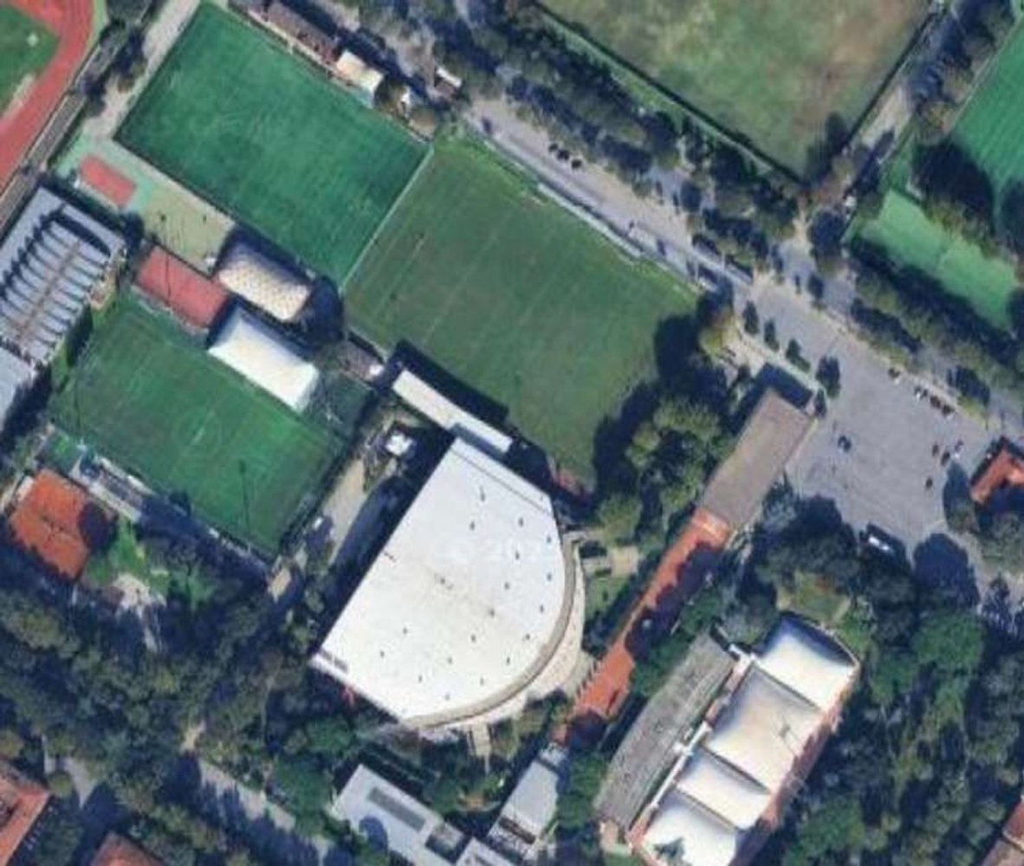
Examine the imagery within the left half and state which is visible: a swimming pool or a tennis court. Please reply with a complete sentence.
What appears within the left half is a tennis court.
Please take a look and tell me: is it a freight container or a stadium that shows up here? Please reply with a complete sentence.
It is a stadium that can be seen here.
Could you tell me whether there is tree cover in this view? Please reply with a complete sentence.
Yes, the picture does contain tree cover.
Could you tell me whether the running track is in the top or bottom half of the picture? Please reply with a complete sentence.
The running track is in the top half of the image.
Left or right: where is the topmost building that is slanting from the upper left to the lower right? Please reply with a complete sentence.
The topmost building that is slanting from the upper left to the lower right appears in the left half of the scene.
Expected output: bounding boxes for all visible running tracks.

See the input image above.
[0,0,95,186]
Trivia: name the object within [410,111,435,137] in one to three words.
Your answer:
shed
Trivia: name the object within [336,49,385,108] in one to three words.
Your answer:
building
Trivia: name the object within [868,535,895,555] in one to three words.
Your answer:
bus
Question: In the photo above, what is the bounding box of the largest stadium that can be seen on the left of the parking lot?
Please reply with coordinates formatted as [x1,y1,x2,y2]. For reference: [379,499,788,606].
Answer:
[314,439,588,757]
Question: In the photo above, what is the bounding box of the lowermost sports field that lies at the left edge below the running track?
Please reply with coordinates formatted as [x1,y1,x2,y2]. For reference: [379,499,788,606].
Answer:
[49,295,352,556]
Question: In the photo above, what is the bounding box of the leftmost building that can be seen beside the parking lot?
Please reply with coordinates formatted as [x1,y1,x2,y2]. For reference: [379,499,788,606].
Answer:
[576,506,730,719]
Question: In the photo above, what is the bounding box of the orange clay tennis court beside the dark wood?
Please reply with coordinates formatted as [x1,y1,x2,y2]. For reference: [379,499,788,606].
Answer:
[9,469,97,579]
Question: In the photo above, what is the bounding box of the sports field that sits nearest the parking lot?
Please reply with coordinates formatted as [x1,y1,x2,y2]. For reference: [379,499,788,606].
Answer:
[346,147,700,495]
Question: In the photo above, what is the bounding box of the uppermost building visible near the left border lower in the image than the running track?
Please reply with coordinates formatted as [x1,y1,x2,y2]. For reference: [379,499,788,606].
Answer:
[0,186,124,364]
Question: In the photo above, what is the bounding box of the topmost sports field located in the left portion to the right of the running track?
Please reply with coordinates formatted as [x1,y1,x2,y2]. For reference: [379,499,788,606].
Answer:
[111,0,433,291]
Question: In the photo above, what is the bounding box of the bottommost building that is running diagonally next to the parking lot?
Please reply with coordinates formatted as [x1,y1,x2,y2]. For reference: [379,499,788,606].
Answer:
[626,613,860,866]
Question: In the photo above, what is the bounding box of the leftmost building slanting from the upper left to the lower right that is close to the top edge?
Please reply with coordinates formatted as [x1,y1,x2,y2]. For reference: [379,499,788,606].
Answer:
[262,4,340,66]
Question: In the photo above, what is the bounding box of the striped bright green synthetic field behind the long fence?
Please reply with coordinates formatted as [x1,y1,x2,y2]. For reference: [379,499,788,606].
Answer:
[952,22,1024,231]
